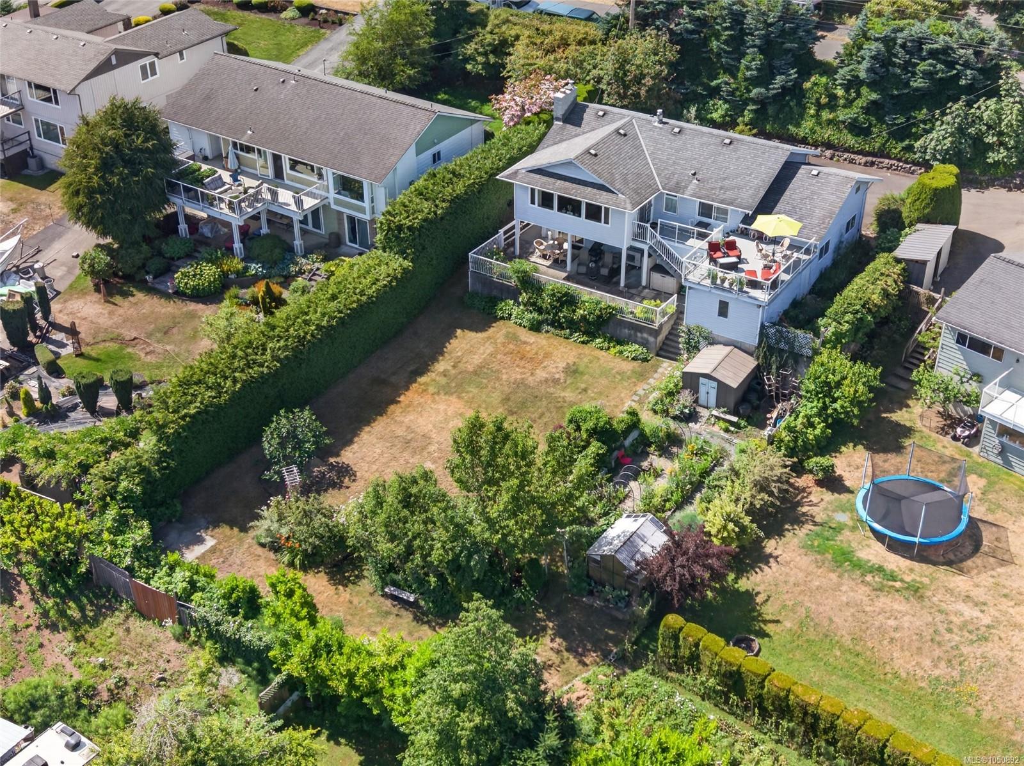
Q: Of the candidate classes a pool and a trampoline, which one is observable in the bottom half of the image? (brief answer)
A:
trampoline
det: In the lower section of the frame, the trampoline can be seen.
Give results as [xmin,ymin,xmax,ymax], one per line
[848,441,979,564]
